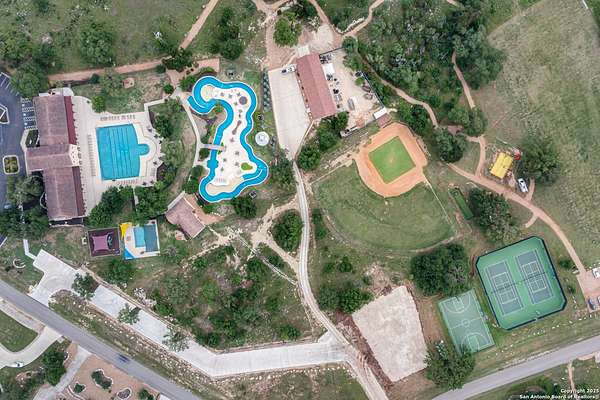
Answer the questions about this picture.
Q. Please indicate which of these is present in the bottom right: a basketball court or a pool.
basketball court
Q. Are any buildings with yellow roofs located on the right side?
Yes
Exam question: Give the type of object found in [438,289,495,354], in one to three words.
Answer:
basketball court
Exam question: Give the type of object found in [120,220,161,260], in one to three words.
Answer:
swimming pool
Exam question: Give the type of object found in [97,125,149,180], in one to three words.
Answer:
swimming pool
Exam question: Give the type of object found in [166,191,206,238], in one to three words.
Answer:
building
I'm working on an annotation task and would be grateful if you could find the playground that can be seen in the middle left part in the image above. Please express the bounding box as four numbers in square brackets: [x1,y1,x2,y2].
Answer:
[87,227,121,257]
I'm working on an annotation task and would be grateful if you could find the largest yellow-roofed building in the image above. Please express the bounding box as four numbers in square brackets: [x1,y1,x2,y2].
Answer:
[488,152,513,179]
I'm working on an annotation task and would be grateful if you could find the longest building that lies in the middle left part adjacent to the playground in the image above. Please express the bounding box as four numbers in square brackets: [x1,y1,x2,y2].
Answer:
[22,95,90,228]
